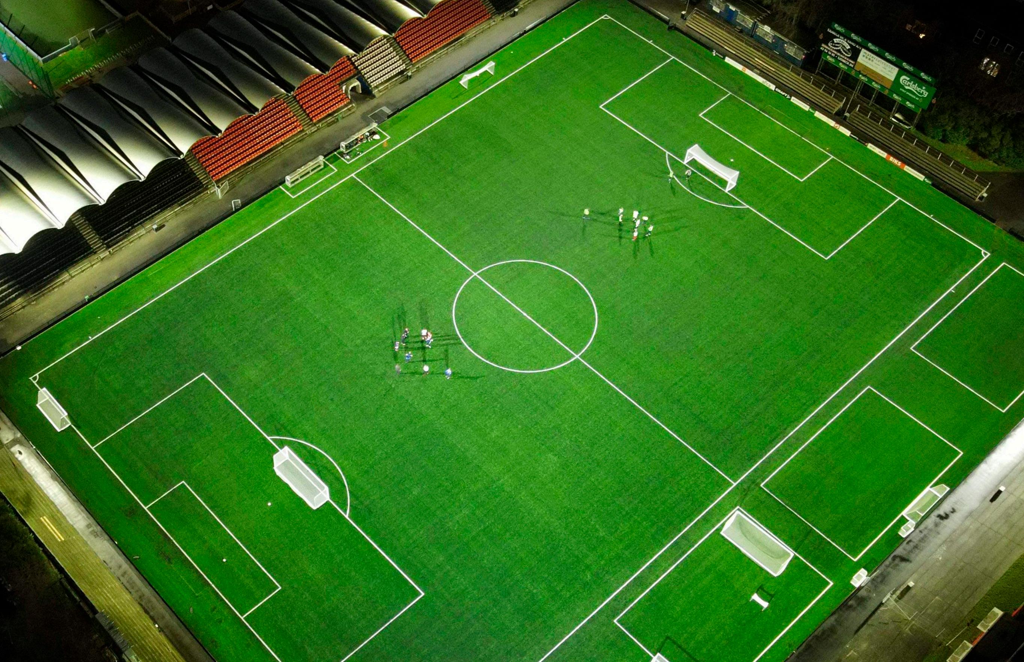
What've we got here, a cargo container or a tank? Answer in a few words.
cargo container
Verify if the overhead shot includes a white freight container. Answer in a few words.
No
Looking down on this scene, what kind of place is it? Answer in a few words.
sports ground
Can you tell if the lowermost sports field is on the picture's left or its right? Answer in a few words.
right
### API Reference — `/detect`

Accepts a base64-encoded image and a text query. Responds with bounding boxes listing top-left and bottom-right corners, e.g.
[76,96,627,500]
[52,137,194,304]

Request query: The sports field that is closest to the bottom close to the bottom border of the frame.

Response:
[614,506,833,662]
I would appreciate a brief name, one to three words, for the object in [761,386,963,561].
sports field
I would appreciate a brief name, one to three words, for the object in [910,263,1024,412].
sports field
